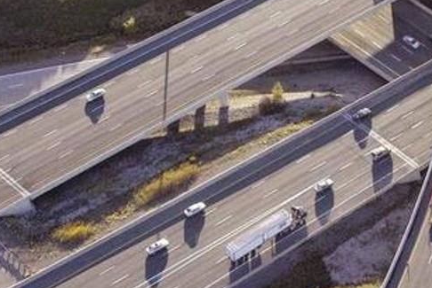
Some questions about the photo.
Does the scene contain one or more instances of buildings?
No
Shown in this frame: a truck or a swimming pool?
truck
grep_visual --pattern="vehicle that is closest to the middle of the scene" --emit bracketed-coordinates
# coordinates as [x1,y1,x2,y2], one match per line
[182,200,207,217]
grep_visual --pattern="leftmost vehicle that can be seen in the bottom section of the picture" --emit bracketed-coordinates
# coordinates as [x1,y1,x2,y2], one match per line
[144,238,170,256]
